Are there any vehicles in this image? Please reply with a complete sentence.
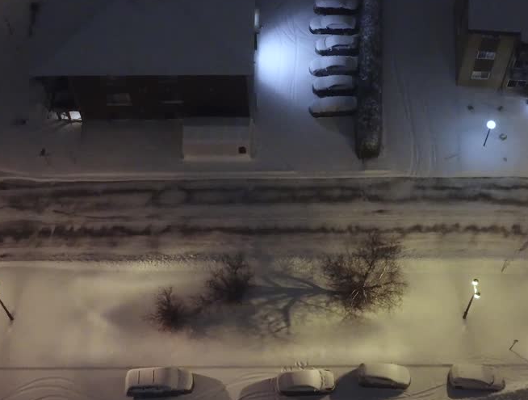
Yes, this view includes a vehicle.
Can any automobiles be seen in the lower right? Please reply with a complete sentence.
Yes, I can see an automobile in the lower right.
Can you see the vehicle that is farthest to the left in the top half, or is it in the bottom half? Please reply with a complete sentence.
Seen from above, the vehicle that is farthest to the left lies in the bottom half of the view.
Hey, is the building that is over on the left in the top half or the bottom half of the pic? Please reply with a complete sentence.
The building that is over on the left is in the top half of the image.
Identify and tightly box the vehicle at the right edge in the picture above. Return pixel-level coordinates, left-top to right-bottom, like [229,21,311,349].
[445,365,507,394]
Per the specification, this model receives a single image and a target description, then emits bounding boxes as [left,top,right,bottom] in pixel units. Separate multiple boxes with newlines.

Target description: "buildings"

[456,0,528,89]
[30,0,259,159]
